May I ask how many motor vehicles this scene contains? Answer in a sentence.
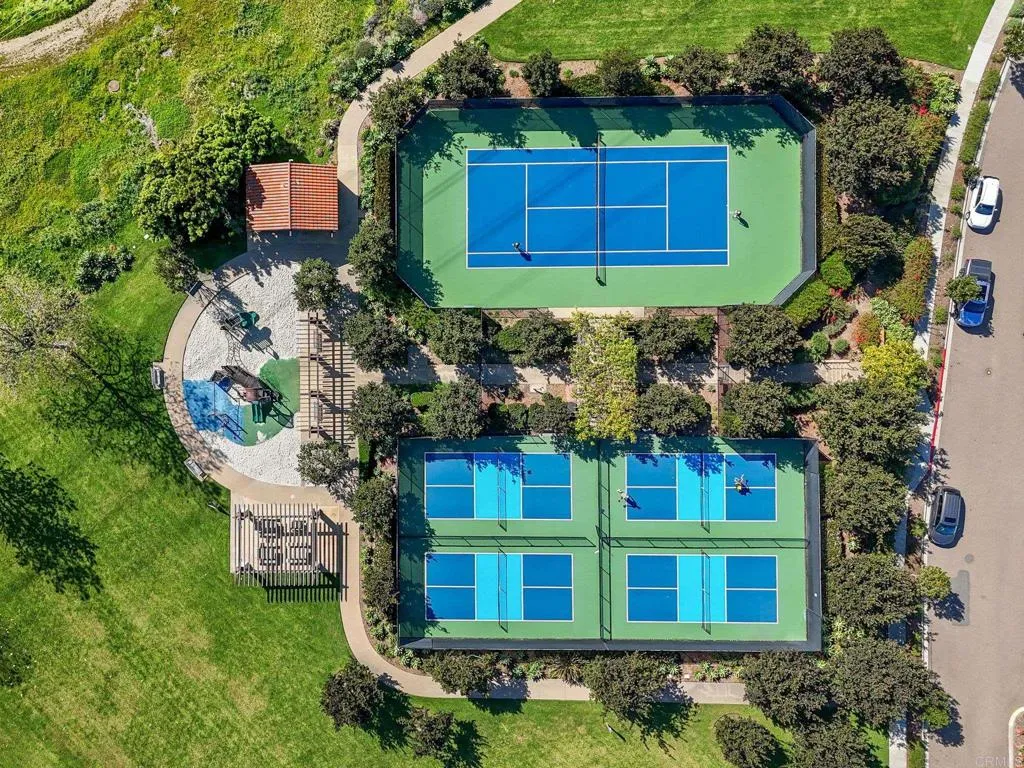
Looking from above, you can make out 3 motor vehicles.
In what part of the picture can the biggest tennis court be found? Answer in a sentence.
Look in the top portion of the view to spot the biggest tennis court.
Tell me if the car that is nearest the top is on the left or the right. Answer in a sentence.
The car that is nearest the top is on the right side of the image.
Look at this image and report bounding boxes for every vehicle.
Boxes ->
[930,487,964,545]
[968,174,1002,227]
[954,261,991,327]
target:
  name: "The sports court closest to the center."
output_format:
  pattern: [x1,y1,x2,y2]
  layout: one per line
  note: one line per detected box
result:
[425,452,572,520]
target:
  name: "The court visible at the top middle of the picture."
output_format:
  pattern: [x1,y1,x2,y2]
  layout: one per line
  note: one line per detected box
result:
[398,104,802,307]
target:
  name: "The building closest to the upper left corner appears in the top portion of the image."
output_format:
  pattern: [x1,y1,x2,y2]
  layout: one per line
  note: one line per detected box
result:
[246,161,338,234]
